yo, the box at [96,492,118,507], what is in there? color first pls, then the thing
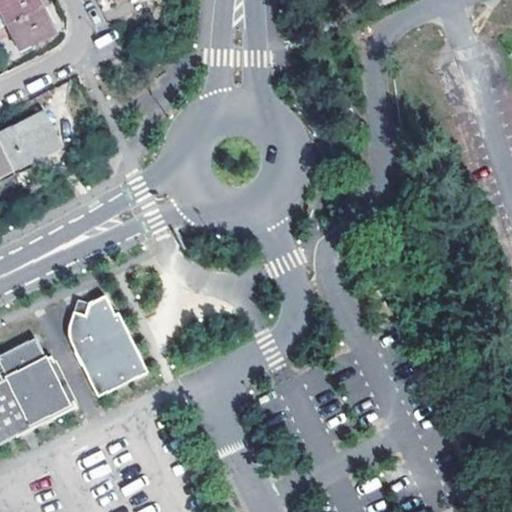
white car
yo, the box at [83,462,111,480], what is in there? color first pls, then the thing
white vehicle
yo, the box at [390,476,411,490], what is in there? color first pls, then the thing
white car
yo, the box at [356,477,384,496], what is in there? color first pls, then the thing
white vehicle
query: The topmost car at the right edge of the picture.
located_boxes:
[472,166,492,179]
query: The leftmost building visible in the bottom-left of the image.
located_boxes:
[0,338,76,444]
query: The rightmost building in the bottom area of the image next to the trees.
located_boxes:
[68,295,146,396]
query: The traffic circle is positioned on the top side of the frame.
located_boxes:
[161,84,315,238]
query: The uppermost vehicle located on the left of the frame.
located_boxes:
[85,2,101,24]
